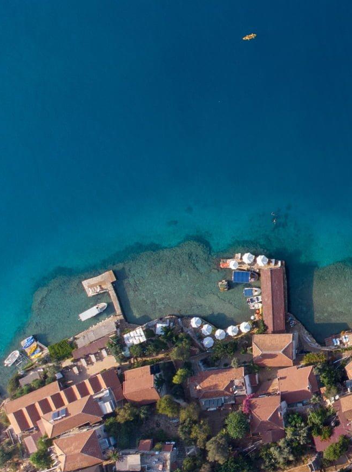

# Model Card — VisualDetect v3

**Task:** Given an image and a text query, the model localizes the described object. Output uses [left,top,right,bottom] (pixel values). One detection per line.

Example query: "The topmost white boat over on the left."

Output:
[73,305,107,323]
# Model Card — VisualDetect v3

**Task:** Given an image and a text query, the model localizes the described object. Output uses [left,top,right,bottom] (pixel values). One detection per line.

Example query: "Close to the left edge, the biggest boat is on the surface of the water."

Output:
[2,351,19,367]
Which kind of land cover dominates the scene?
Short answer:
water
